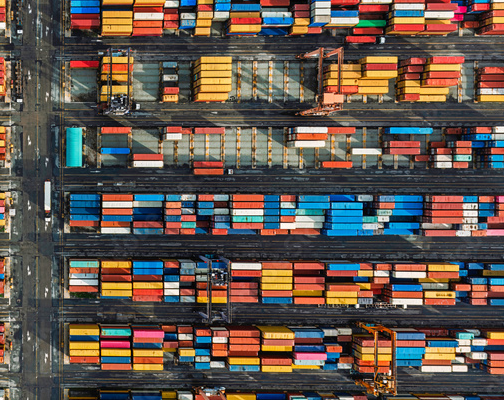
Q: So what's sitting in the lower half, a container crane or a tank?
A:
container crane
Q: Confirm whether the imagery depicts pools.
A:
No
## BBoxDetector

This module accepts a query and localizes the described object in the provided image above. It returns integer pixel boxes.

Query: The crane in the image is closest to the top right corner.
[297,47,344,119]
